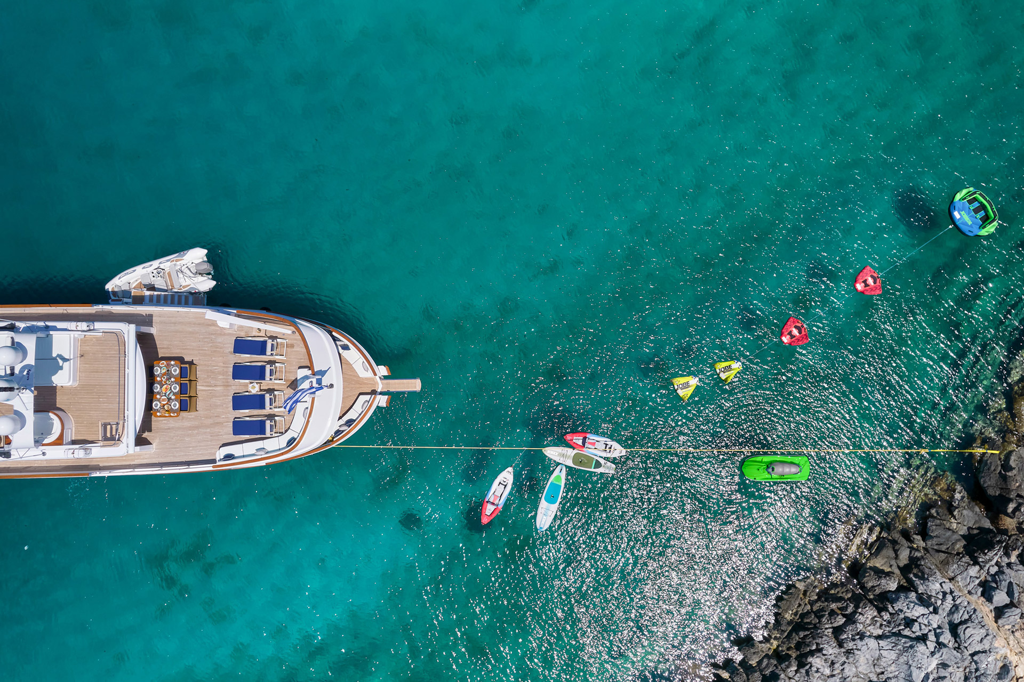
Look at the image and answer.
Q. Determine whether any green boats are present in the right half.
Yes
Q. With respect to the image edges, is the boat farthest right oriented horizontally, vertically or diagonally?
horizontally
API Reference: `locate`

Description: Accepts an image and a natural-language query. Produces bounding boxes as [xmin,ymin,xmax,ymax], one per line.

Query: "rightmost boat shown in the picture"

[741,456,811,481]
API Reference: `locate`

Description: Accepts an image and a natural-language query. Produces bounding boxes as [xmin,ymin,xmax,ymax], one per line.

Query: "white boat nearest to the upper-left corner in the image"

[106,248,215,303]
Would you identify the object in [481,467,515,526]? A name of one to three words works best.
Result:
boat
